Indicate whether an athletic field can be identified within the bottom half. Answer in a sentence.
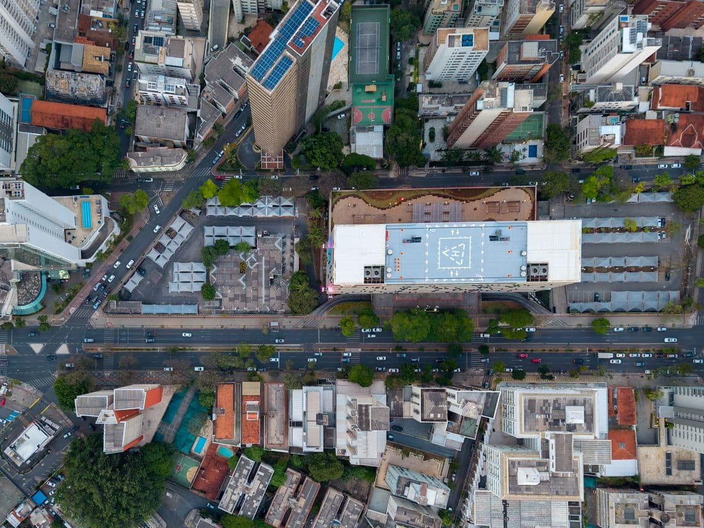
No, I see no athletic field within the bottom half.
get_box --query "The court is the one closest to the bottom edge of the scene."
[170,455,200,487]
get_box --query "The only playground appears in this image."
[353,83,395,106]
